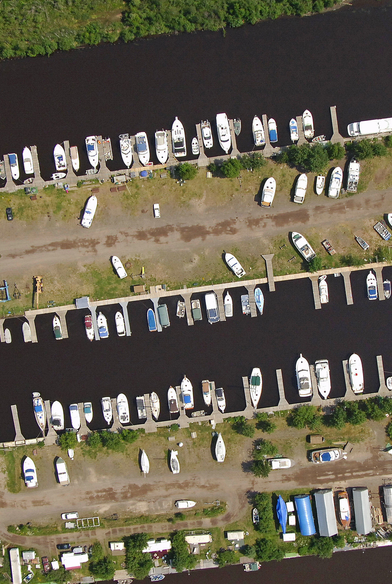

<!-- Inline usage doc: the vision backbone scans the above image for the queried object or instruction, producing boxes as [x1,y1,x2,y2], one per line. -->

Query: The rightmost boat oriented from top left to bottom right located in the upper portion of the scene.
[374,222,392,241]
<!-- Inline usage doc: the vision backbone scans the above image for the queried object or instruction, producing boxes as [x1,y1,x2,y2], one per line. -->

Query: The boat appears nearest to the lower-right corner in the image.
[337,491,352,529]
